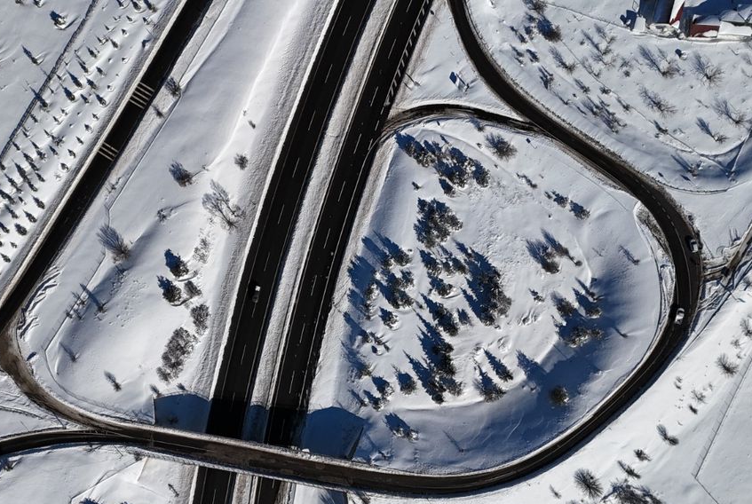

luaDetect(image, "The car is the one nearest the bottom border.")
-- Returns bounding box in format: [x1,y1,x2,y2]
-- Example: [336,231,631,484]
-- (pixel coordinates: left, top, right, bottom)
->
[674,306,686,323]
